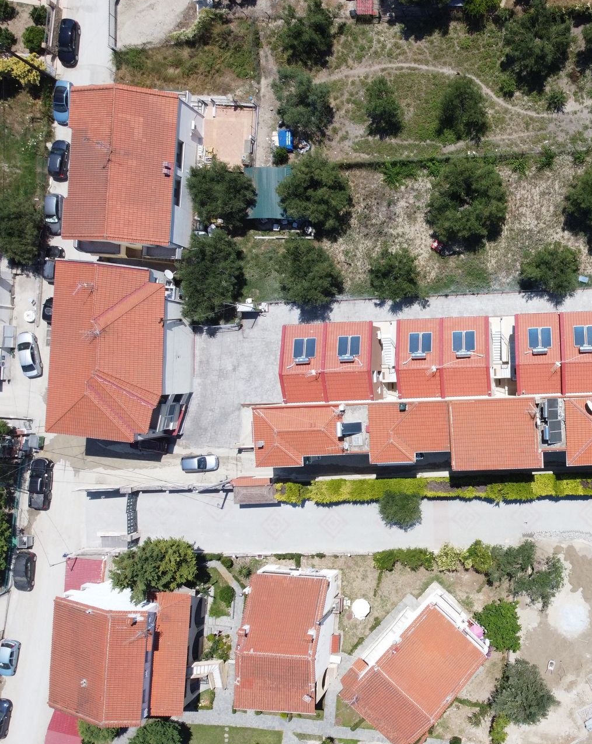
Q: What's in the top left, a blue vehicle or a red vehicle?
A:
blue vehicle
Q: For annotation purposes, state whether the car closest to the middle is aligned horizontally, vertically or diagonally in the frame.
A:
horizontally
